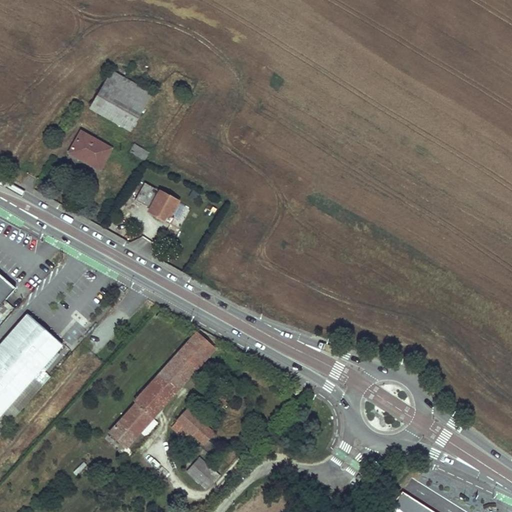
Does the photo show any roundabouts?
Yes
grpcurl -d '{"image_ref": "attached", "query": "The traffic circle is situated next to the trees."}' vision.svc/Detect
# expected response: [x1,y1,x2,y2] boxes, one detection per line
[360,380,416,435]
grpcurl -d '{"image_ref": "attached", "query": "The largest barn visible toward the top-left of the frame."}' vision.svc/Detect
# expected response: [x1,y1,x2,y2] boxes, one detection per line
[90,72,152,132]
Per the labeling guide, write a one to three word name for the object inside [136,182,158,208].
building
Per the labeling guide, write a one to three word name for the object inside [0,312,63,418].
building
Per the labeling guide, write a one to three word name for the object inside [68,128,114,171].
house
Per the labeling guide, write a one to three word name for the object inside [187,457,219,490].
house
